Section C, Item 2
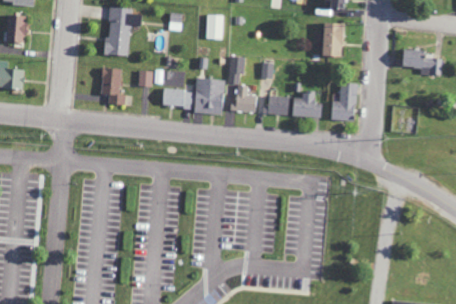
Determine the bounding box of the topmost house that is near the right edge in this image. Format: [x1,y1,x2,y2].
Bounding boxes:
[403,46,436,76]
